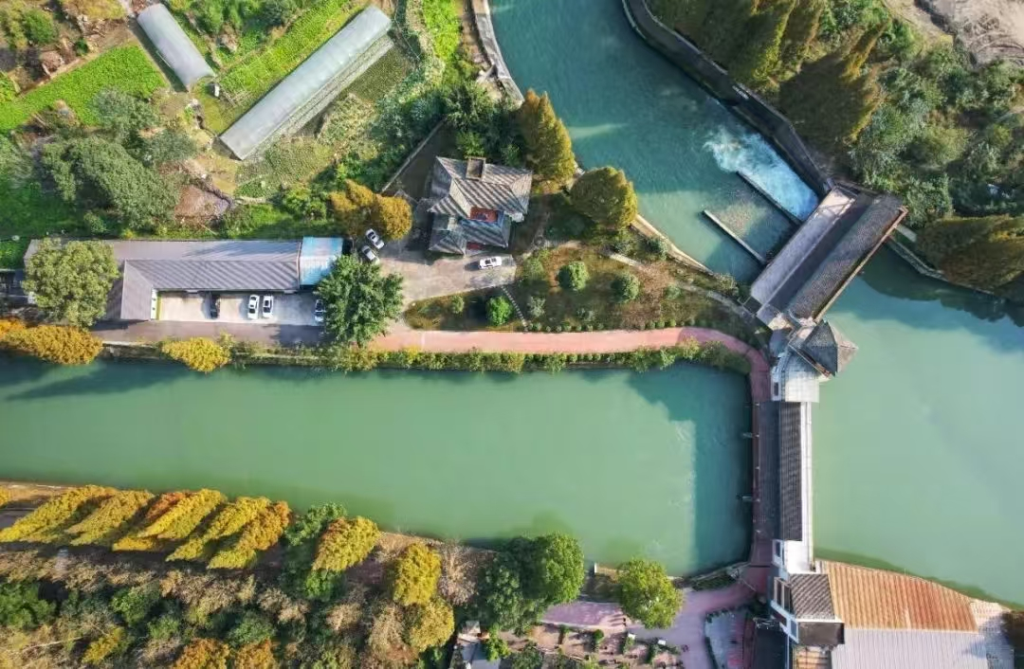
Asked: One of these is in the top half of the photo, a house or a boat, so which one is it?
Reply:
house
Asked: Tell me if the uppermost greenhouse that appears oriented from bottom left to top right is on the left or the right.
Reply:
left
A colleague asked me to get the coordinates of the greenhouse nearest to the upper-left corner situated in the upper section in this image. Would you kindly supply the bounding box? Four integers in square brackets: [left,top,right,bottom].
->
[138,0,211,86]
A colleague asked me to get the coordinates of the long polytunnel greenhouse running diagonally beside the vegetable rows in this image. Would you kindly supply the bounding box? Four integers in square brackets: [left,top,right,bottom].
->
[220,2,388,158]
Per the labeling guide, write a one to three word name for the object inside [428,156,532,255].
house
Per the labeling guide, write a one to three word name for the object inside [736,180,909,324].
building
